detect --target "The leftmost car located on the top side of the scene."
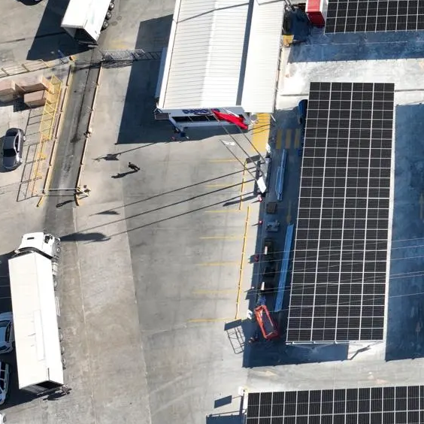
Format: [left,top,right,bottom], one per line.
[0,129,27,169]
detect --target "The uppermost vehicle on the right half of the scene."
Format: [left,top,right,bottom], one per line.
[291,99,311,132]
